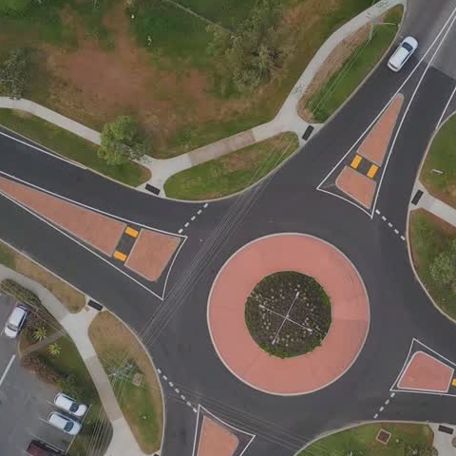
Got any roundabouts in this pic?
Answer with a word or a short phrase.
Yes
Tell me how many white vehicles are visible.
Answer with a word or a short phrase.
4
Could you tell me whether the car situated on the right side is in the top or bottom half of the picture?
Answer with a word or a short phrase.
top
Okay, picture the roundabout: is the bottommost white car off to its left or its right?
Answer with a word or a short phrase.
to its left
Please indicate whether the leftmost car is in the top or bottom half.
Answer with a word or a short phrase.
bottom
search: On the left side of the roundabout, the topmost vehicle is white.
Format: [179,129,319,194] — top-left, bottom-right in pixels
[5,303,30,340]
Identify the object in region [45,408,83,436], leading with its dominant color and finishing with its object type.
white car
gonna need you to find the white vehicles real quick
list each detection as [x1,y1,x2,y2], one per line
[45,408,83,436]
[387,33,417,74]
[5,303,30,340]
[52,391,90,417]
